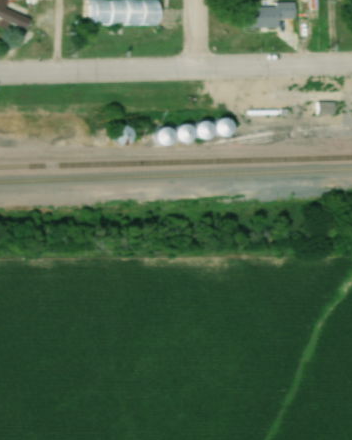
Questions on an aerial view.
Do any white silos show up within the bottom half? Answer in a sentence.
No, I see no white silo within the bottom half.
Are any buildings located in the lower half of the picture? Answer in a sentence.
No, there's no building to be seen in the lower half of the picture.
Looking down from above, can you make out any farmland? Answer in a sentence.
Yes, the picture does contain farmland.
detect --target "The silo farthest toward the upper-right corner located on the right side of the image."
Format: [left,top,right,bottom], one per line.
[212,118,234,137]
